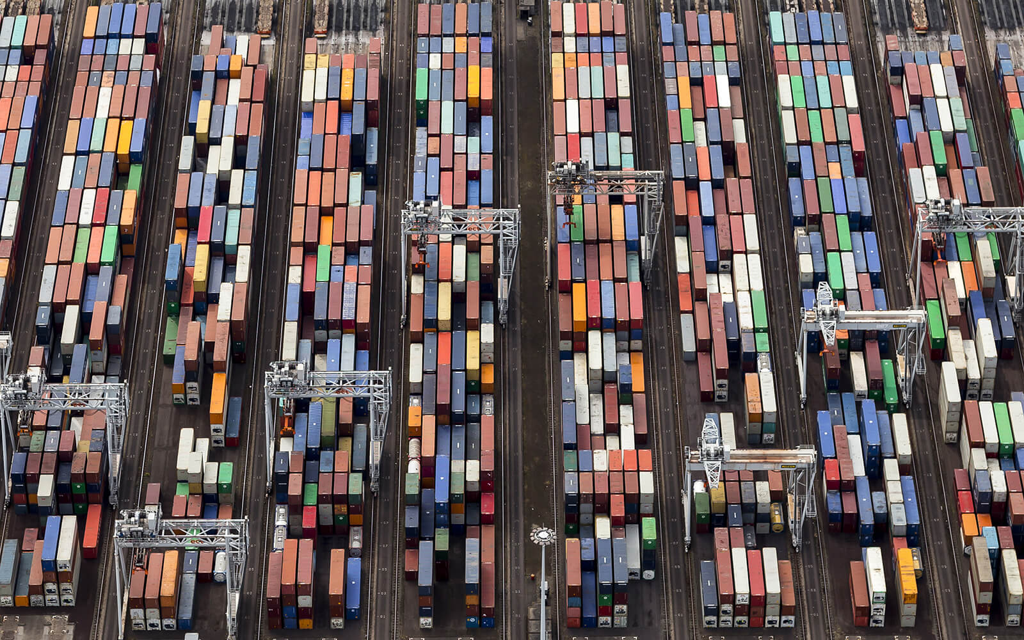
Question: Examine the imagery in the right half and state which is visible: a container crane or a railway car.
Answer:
container crane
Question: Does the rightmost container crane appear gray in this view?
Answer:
Yes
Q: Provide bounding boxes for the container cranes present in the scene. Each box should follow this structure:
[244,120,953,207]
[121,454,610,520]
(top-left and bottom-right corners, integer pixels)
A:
[262,345,390,504]
[911,183,1024,327]
[681,416,817,559]
[0,360,127,514]
[399,186,519,332]
[110,493,248,638]
[795,279,929,414]
[546,147,665,291]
